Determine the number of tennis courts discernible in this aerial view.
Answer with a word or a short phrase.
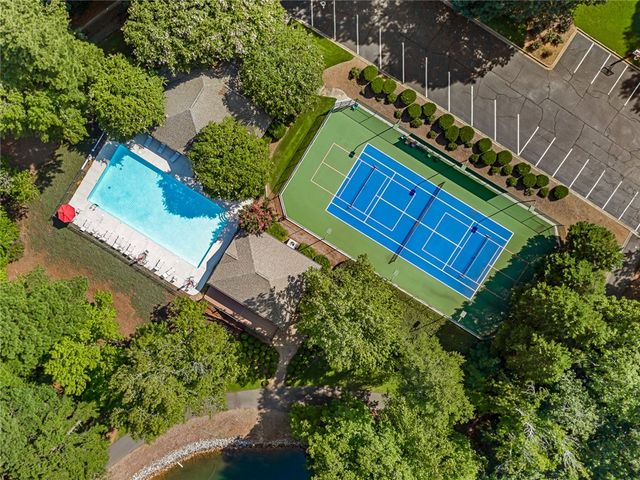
1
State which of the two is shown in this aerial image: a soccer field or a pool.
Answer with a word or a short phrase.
pool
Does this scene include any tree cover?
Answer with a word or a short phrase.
Yes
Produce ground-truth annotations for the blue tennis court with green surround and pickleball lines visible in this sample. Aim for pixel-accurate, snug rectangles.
[279,99,560,340]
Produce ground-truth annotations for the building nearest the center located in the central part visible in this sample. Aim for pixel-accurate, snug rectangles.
[205,224,318,343]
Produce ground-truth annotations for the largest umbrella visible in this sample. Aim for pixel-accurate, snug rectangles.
[59,204,78,222]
